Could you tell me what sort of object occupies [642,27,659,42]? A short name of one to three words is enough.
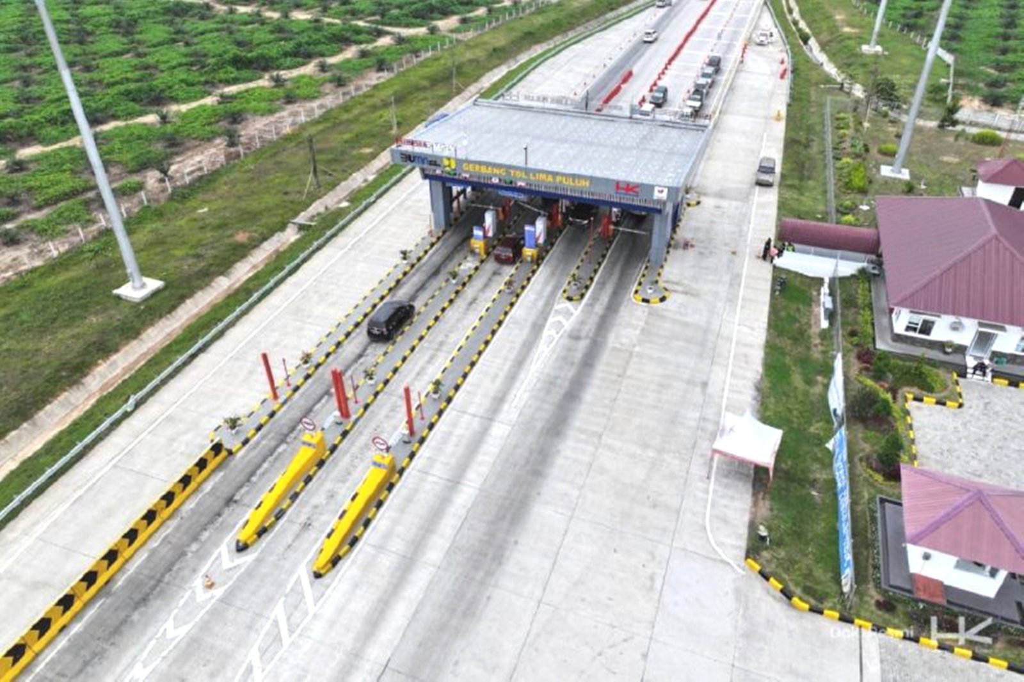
car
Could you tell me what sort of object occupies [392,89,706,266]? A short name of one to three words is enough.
toll station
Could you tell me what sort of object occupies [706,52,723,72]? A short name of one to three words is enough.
car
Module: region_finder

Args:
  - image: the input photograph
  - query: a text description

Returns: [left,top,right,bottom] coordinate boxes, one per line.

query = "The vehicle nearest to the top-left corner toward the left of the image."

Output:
[365,296,417,341]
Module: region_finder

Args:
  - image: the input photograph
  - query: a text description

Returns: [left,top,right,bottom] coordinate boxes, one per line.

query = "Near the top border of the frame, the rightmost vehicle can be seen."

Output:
[755,28,772,45]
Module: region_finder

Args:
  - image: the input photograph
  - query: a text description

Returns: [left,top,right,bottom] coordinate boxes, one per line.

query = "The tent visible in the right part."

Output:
[708,405,781,492]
